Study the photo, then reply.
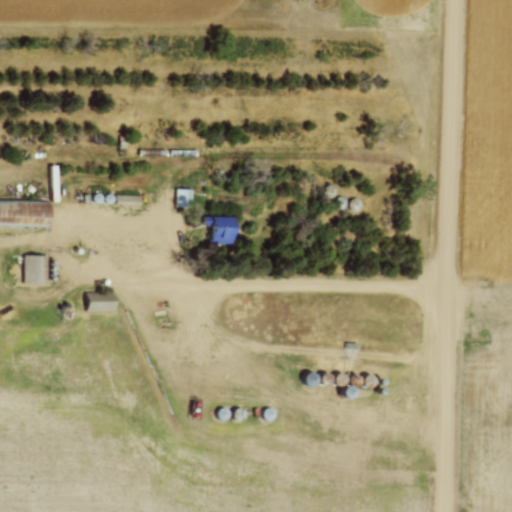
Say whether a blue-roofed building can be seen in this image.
Yes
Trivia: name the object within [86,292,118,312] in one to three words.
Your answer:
barn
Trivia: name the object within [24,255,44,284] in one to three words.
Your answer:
building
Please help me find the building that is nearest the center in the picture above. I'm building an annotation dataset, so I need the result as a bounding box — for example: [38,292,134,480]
[204,217,237,244]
